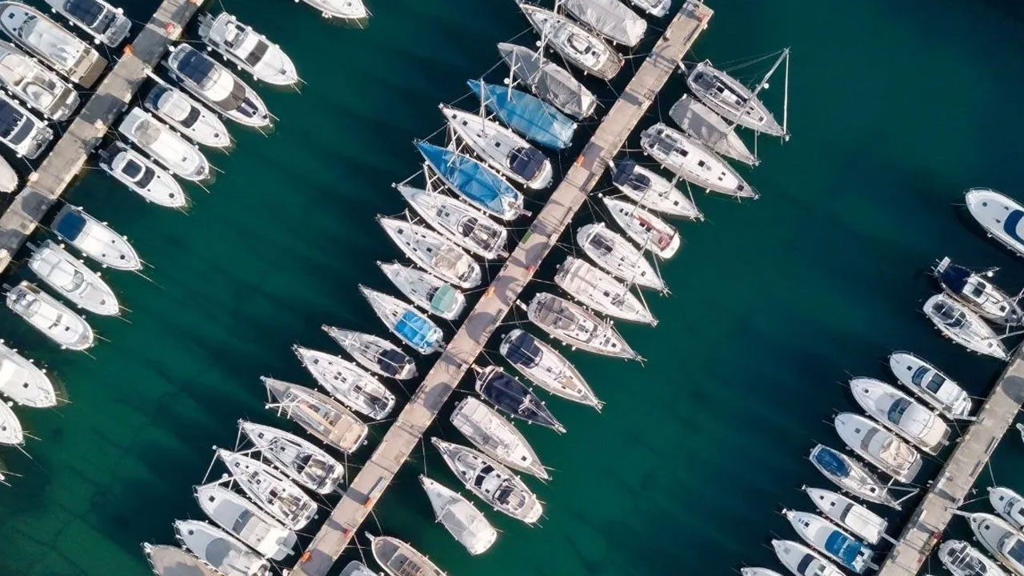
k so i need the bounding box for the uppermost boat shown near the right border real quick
[961,190,1024,263]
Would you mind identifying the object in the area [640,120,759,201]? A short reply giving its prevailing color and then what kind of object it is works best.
white boat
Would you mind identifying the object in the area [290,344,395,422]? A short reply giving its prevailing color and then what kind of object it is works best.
white boat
